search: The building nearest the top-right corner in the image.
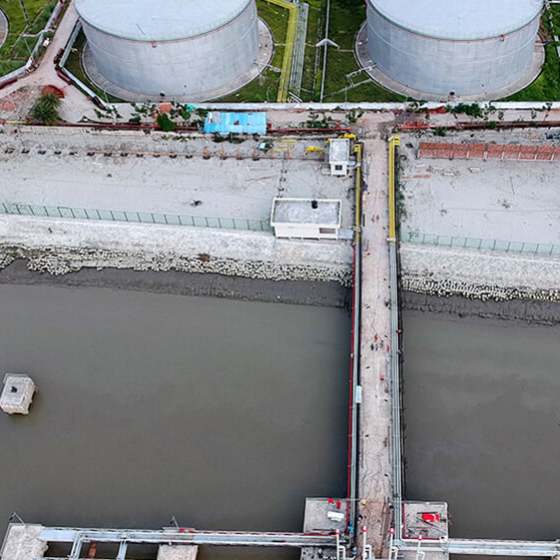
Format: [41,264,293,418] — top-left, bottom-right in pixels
[328,137,350,175]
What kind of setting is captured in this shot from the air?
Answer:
industrial area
